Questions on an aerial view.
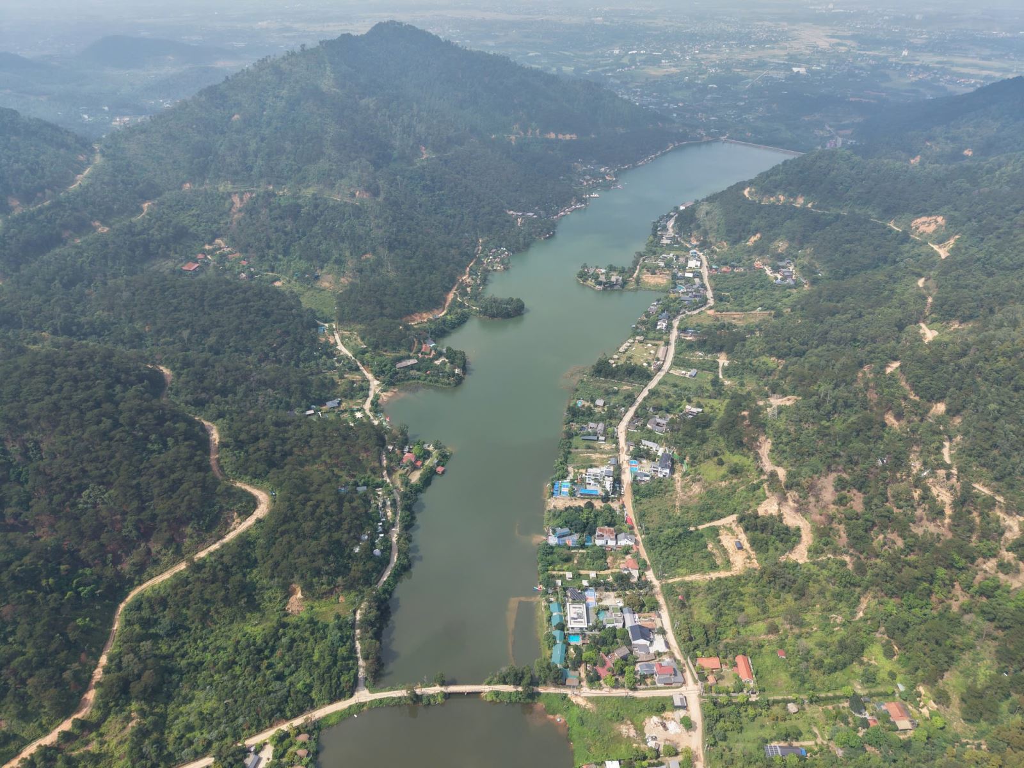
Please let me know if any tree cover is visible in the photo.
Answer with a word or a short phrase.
Yes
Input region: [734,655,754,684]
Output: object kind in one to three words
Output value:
house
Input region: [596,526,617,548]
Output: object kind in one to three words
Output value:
house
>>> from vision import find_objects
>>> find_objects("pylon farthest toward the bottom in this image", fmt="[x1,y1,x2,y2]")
[768,391,786,422]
